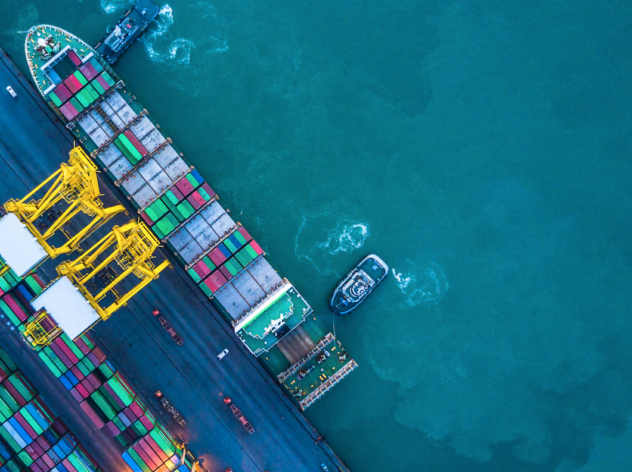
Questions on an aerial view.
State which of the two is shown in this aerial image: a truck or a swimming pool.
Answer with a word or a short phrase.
truck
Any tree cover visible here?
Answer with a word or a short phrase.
No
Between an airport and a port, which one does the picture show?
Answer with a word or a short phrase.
port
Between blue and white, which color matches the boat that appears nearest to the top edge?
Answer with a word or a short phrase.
blue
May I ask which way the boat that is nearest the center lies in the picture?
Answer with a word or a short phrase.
at an angle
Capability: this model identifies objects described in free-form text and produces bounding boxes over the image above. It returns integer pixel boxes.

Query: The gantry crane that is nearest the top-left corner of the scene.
[0,132,129,280]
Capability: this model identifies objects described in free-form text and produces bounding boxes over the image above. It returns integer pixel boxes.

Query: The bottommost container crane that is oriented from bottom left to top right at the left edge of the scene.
[15,208,174,352]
